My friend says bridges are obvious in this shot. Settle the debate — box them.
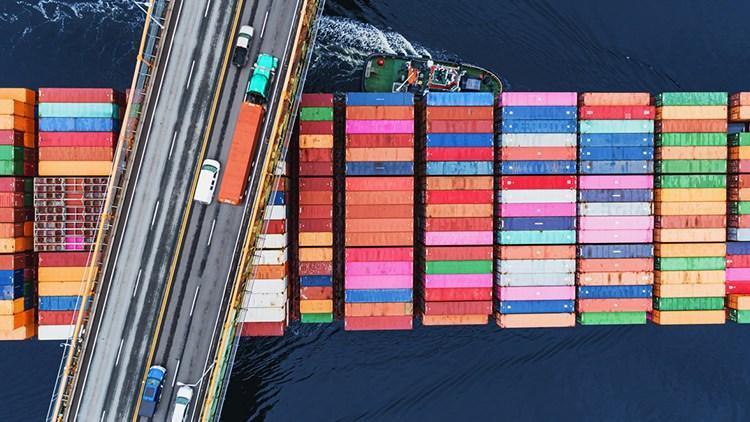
[45,0,324,422]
